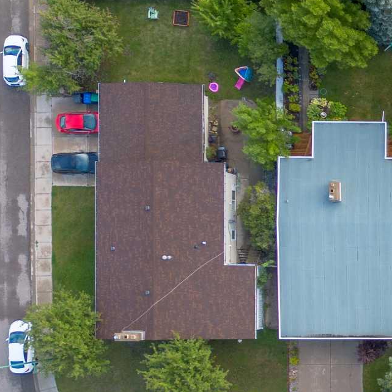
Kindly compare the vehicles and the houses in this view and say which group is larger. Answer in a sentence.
Counting both kinds, the vehicles come out ahead of the houses.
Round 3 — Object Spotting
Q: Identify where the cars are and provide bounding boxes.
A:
[48,108,98,132]
[43,148,98,174]
[0,320,31,375]
[0,35,27,86]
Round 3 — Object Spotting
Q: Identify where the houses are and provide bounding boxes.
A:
[96,81,266,340]
[276,111,392,340]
